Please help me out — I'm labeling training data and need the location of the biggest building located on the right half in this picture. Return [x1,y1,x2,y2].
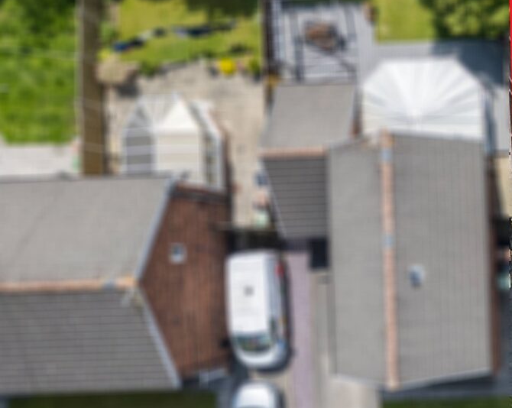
[328,130,498,392]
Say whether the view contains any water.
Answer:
No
